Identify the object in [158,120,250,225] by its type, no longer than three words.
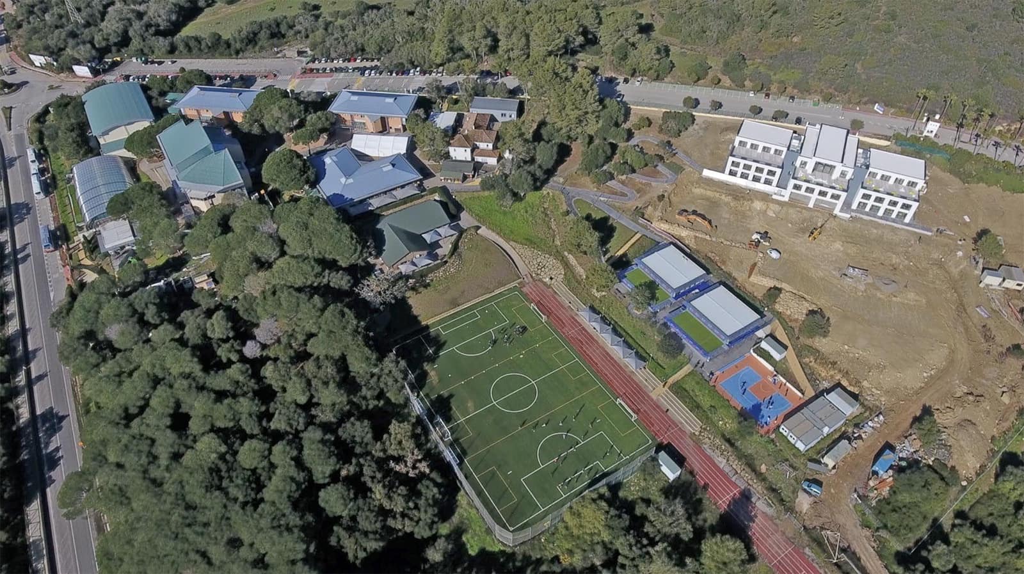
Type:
building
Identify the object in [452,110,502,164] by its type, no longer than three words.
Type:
house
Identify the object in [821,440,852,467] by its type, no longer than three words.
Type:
shipping container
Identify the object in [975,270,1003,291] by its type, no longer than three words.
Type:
shed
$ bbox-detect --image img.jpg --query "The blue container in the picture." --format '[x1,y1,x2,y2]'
[866,450,896,482]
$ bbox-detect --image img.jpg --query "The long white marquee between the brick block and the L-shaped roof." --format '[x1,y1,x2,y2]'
[351,135,412,160]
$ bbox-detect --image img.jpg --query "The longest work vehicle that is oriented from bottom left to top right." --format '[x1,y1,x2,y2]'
[806,210,836,241]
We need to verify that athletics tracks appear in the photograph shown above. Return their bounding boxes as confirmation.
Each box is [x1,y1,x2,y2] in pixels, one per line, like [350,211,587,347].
[516,276,822,574]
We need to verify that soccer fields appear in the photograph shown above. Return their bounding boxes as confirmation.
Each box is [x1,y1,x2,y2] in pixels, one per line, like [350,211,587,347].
[377,282,662,536]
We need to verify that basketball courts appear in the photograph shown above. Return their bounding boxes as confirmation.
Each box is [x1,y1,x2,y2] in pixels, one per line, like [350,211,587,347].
[712,354,805,429]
